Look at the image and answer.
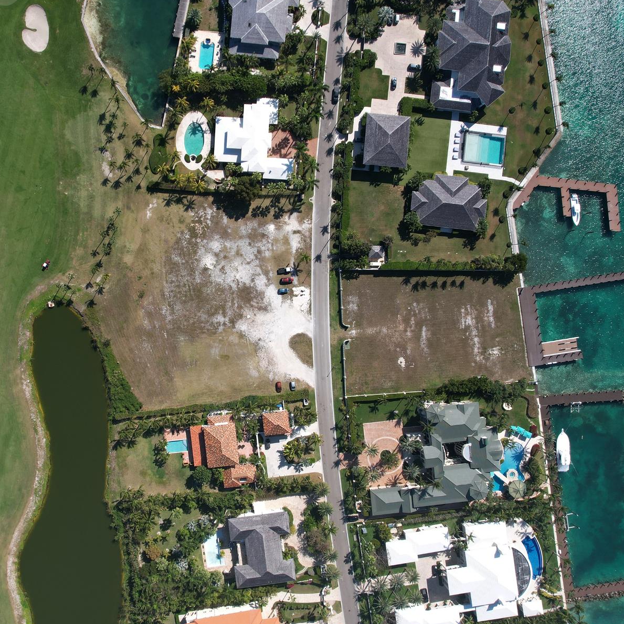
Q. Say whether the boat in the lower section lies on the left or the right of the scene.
right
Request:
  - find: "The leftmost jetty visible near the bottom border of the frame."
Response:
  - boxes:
[540,406,576,601]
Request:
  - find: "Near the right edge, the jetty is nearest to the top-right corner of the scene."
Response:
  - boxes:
[513,169,623,232]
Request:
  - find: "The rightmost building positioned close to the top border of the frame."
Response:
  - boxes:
[430,0,511,113]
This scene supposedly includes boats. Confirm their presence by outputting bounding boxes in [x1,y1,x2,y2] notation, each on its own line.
[555,420,578,477]
[570,193,581,224]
